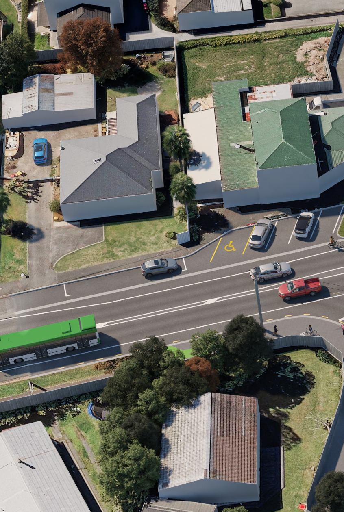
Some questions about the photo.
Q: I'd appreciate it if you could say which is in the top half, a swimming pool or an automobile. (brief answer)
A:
automobile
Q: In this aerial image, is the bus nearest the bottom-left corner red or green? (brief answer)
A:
green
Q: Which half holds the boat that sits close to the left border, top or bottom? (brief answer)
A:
top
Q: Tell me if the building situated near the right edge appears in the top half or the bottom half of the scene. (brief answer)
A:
top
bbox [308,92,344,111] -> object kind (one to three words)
vehicle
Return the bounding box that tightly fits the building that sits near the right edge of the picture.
[213,77,344,206]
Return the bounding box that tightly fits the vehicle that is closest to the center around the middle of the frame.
[138,257,179,278]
